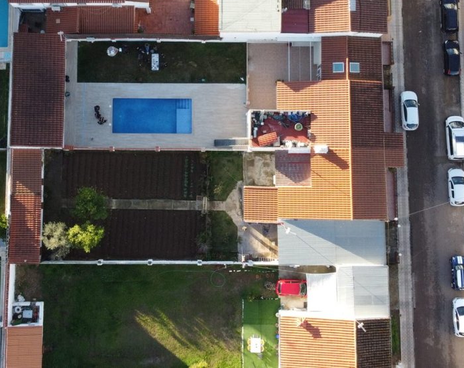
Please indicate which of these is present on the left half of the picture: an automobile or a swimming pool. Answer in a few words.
swimming pool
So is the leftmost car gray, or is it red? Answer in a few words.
red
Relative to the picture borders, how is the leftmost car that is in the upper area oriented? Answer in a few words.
up and down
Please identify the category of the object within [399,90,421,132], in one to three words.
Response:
car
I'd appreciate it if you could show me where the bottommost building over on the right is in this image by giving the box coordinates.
[272,300,393,368]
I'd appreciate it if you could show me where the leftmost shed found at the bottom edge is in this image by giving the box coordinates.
[5,323,46,368]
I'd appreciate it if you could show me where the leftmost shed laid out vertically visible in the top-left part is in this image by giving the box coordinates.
[9,32,68,147]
